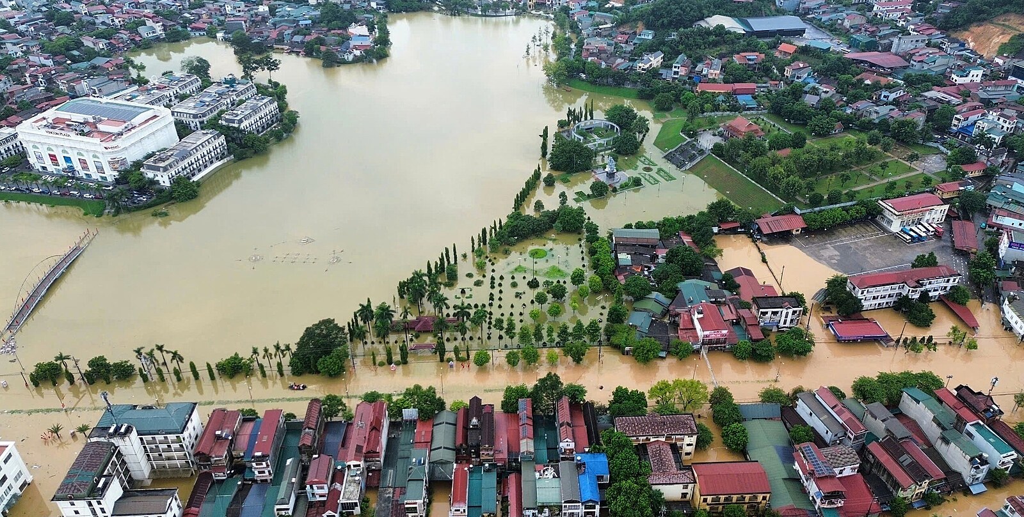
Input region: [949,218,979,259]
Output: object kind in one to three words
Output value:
shed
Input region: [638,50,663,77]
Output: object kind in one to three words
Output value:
house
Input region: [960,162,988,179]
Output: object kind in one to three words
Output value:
shed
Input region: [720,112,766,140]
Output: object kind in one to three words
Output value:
building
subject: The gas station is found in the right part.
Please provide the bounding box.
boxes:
[827,319,890,347]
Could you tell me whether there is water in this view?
Yes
